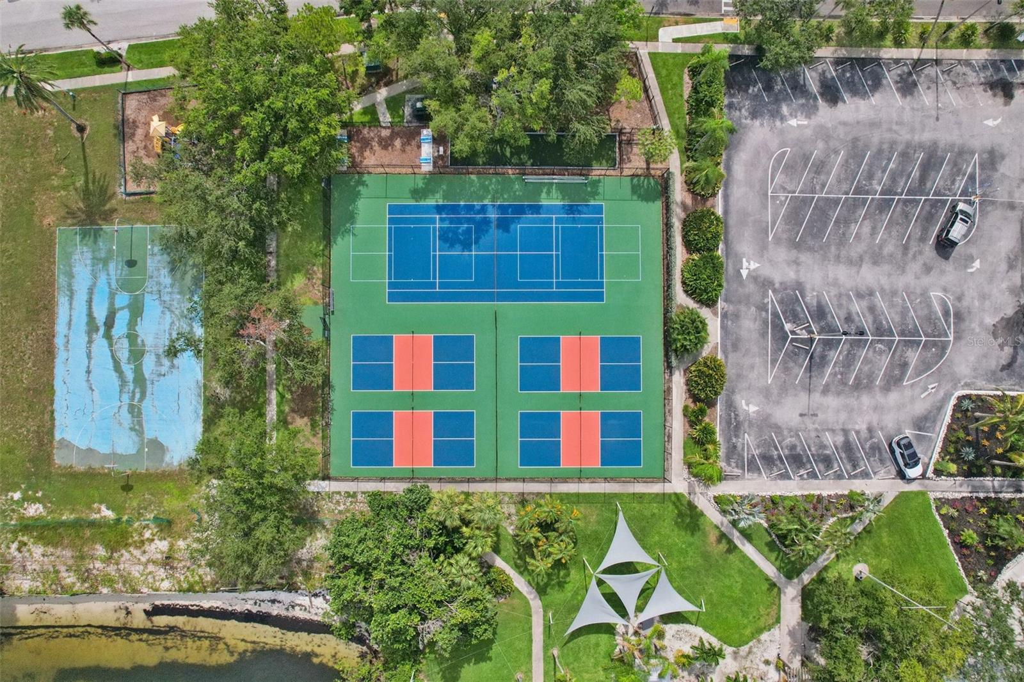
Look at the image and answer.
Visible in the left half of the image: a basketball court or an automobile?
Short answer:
basketball court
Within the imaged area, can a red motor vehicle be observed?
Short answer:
No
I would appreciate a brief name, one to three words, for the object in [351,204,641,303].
tennis court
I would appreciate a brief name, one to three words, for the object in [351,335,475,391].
sports court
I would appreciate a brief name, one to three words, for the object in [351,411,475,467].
sports court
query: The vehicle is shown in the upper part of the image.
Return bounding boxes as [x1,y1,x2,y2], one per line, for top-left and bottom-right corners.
[935,204,969,251]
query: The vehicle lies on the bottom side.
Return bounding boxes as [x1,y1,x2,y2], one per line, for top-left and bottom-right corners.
[889,432,921,477]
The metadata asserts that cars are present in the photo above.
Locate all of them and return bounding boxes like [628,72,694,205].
[935,204,969,251]
[889,432,921,477]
